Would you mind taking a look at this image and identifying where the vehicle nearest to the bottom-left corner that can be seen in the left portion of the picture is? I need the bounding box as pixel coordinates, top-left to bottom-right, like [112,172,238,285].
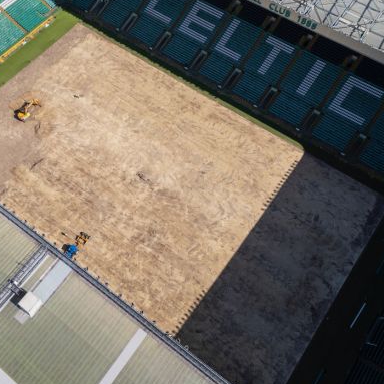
[64,239,80,259]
